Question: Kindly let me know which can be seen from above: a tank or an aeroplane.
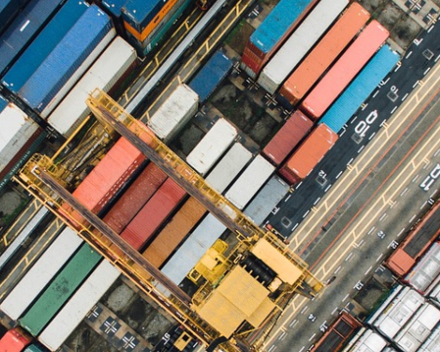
tank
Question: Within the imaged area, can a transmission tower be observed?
No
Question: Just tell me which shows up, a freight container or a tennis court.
freight container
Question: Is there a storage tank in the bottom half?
Yes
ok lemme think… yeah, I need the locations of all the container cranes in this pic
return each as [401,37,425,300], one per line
[14,79,332,352]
